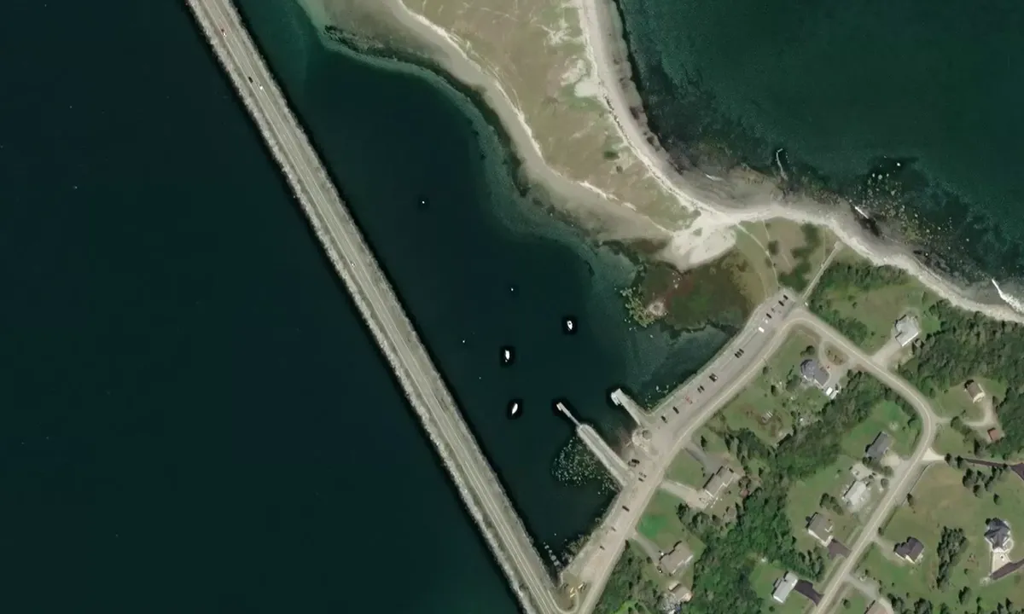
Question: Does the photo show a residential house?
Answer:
Yes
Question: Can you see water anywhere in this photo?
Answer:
Yes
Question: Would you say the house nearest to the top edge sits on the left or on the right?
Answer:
right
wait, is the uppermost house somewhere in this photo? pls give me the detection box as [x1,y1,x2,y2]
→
[895,316,919,348]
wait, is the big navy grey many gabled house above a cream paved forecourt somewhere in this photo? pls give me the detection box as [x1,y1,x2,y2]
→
[985,517,1012,552]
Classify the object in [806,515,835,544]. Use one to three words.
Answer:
house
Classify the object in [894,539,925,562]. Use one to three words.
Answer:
house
